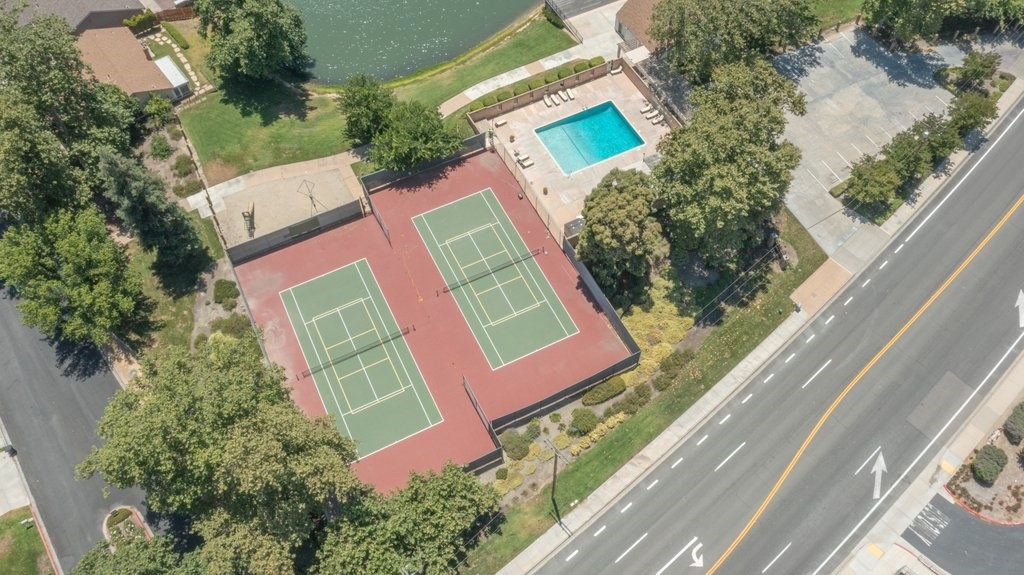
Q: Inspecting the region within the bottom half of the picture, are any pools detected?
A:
No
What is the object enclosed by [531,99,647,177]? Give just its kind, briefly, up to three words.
swimming pool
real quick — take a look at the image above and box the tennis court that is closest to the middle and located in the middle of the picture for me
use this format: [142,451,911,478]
[367,148,632,433]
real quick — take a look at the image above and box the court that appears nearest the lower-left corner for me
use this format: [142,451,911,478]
[233,211,500,527]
